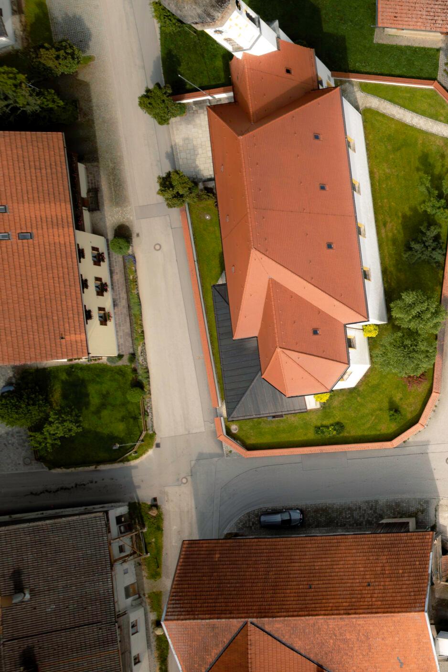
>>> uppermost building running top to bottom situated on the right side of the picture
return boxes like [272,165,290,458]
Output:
[160,0,386,421]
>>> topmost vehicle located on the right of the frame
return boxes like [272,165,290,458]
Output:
[258,506,307,529]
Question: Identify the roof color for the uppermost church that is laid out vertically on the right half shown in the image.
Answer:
orange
